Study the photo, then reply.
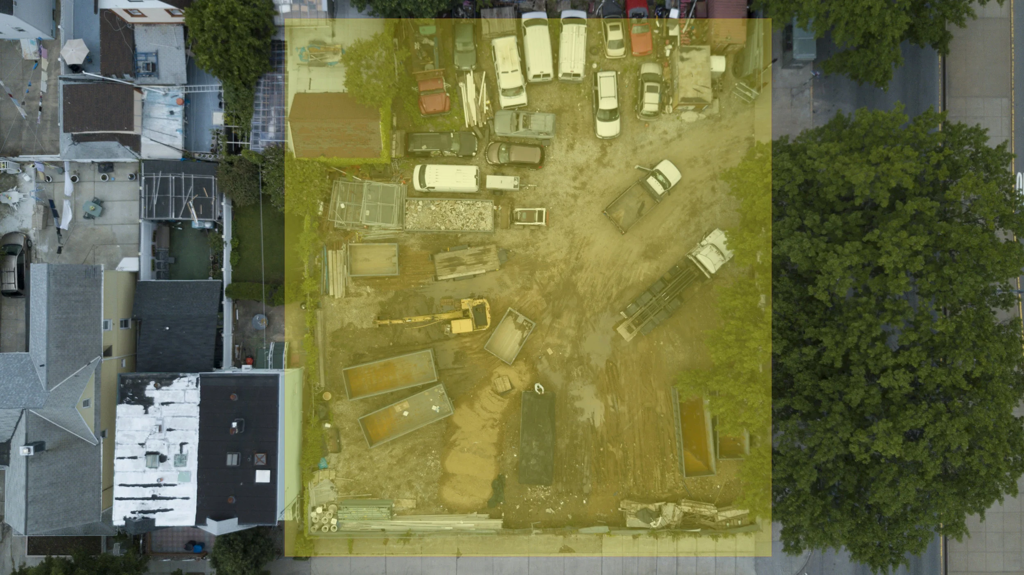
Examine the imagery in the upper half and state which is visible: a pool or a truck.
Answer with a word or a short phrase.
truck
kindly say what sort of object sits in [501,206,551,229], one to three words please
work vehicle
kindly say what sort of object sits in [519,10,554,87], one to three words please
van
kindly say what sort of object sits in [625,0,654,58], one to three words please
car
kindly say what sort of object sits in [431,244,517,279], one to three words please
trailer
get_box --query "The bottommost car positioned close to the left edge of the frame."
[0,233,35,297]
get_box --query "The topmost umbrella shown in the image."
[62,39,97,67]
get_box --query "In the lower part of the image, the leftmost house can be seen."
[0,263,138,536]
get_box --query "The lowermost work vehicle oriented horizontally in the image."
[372,298,491,335]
